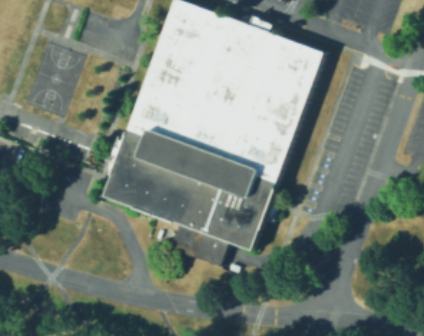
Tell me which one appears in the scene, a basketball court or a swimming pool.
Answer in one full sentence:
Looking from above, you can make out a basketball court.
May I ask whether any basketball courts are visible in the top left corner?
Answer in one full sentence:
Yes, a basketball court is visible in the top left corner.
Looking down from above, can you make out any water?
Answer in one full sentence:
No, there is no water in the image.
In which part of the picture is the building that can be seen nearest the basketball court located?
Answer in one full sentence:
Look in the center portion of the view to spot the building that can be seen nearest the basketball court.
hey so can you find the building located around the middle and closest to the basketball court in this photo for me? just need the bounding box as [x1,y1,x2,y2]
[102,0,324,266]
